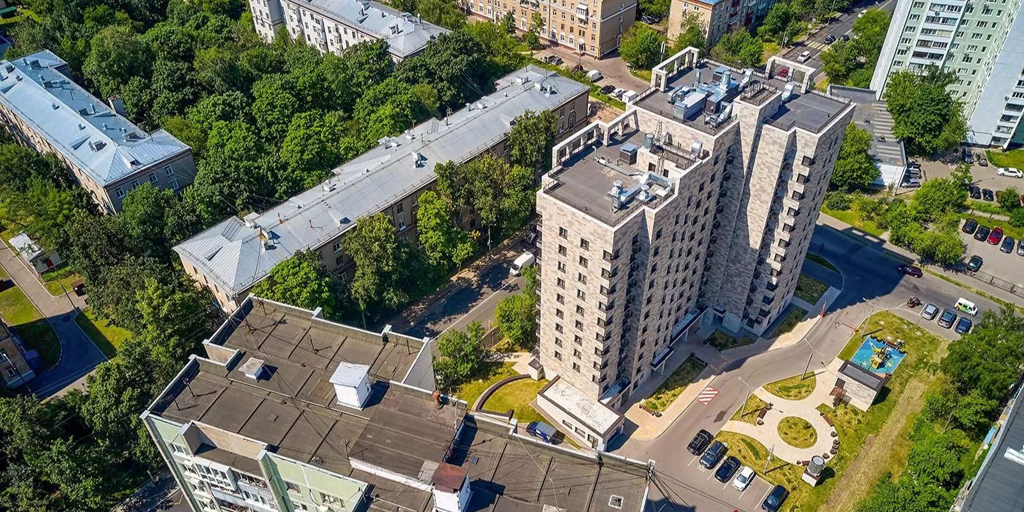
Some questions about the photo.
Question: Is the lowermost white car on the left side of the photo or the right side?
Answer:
right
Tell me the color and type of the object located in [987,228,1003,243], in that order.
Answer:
red car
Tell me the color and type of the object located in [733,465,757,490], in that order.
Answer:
white car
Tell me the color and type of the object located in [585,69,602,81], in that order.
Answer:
white vehicle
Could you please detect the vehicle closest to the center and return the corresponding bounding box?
[510,247,533,274]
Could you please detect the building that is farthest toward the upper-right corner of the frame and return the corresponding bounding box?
[870,0,1024,148]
